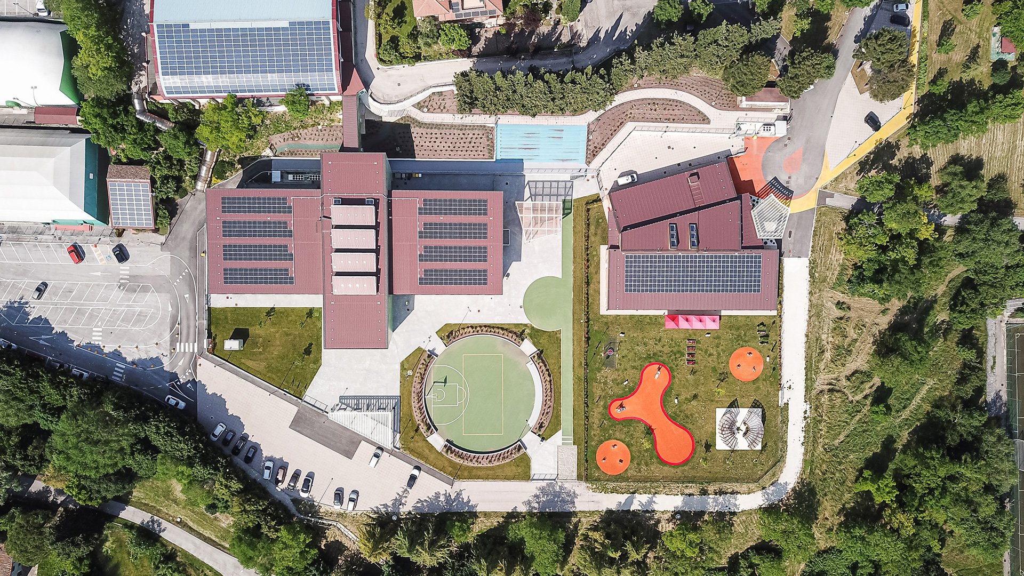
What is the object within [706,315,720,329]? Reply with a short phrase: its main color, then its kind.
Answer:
pink gazebo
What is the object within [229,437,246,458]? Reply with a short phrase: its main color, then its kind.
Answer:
black car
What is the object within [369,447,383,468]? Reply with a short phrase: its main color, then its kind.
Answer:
white car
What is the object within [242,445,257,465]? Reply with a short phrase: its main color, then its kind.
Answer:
black car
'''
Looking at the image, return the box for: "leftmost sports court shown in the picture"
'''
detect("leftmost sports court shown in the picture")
[424,338,536,449]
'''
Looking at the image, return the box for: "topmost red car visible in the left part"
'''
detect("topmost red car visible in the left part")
[67,244,82,264]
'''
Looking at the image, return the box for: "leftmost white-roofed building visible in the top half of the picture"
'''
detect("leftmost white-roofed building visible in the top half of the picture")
[0,134,108,231]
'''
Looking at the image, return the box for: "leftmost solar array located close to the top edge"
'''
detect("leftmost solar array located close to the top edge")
[158,24,336,93]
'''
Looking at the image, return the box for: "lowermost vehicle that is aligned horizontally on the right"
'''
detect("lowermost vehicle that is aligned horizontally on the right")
[617,173,639,186]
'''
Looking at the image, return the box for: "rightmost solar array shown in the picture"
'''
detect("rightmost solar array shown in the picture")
[625,254,762,293]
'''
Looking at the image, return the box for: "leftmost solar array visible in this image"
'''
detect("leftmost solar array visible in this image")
[109,183,152,226]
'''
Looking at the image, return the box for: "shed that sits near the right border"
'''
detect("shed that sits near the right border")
[991,27,1022,60]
